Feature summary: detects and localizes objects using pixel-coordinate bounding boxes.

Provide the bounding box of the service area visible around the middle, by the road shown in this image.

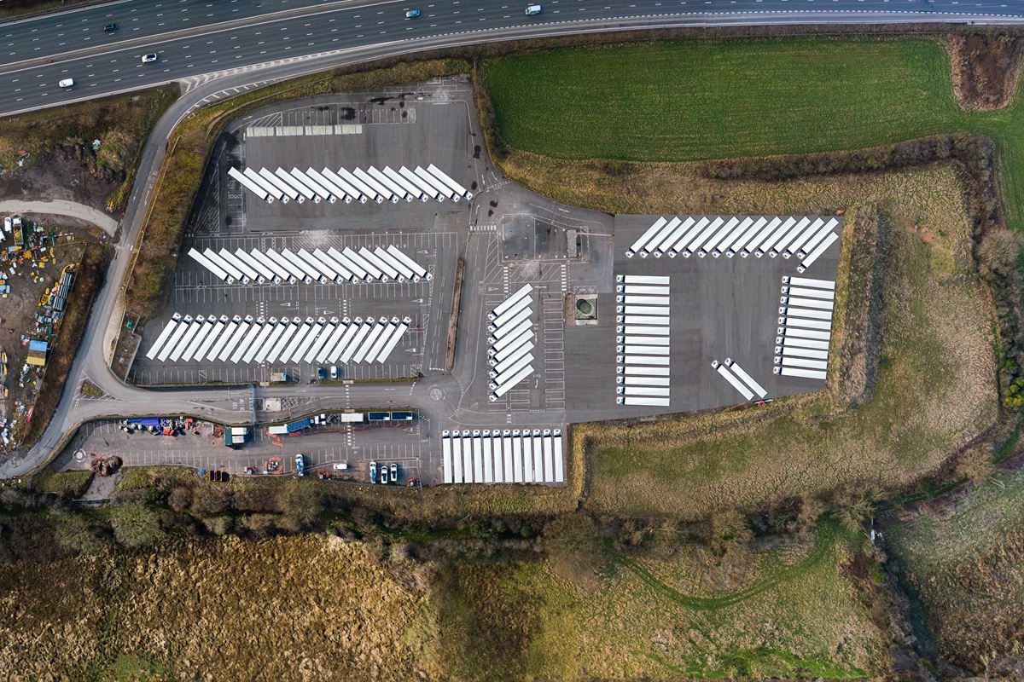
[51,74,841,503]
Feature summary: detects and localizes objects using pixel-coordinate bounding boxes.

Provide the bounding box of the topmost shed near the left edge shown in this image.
[27,339,49,365]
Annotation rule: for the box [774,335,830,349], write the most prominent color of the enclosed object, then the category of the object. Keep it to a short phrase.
white vehicle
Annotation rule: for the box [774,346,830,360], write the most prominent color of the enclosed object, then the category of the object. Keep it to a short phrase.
white vehicle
